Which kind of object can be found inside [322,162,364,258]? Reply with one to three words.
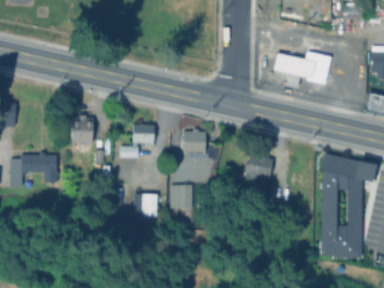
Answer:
building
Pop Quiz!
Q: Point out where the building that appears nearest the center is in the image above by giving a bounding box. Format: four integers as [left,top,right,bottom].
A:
[182,128,207,154]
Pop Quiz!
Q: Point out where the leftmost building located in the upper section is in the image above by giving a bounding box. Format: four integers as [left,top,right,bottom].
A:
[0,101,17,127]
